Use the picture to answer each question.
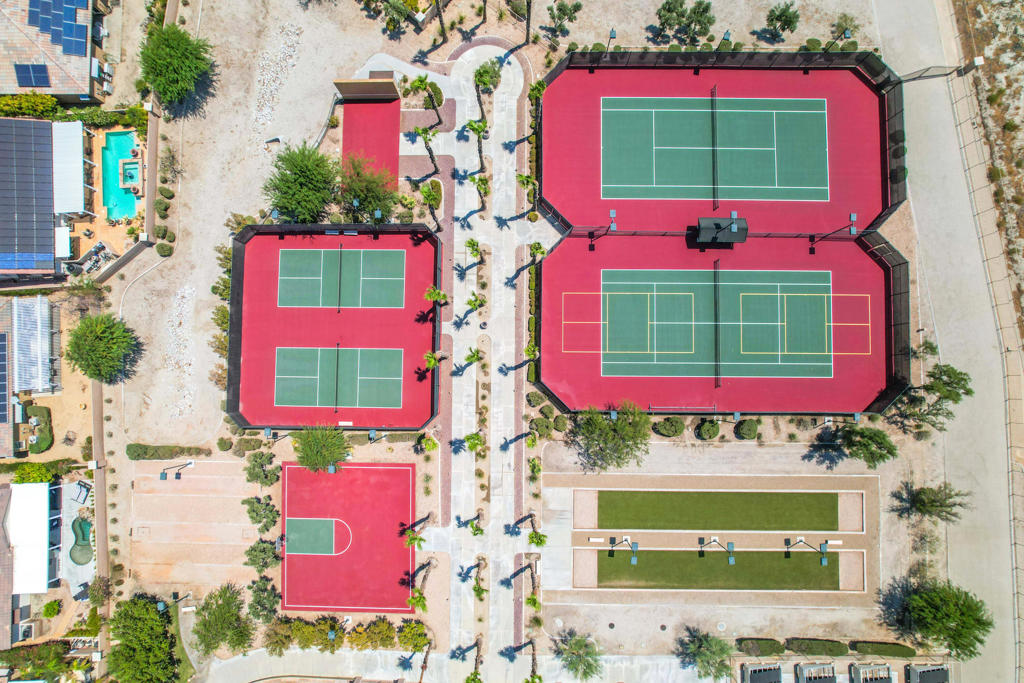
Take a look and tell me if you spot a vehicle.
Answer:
No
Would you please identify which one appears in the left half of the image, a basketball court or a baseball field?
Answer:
basketball court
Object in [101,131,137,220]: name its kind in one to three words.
swimming pool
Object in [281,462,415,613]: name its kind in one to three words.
basketball court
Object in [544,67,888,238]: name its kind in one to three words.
tennis court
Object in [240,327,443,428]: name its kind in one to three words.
sports court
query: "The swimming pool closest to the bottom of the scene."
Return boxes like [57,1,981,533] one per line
[68,517,94,567]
